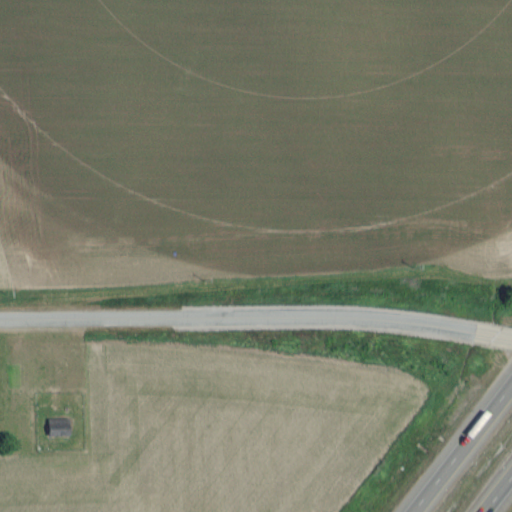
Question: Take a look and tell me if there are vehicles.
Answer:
Yes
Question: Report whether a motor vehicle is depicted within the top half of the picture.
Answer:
No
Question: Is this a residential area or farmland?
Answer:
farmland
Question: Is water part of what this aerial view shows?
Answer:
No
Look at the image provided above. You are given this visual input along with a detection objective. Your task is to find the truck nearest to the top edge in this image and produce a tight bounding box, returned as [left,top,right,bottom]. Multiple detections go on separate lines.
[462,411,491,444]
